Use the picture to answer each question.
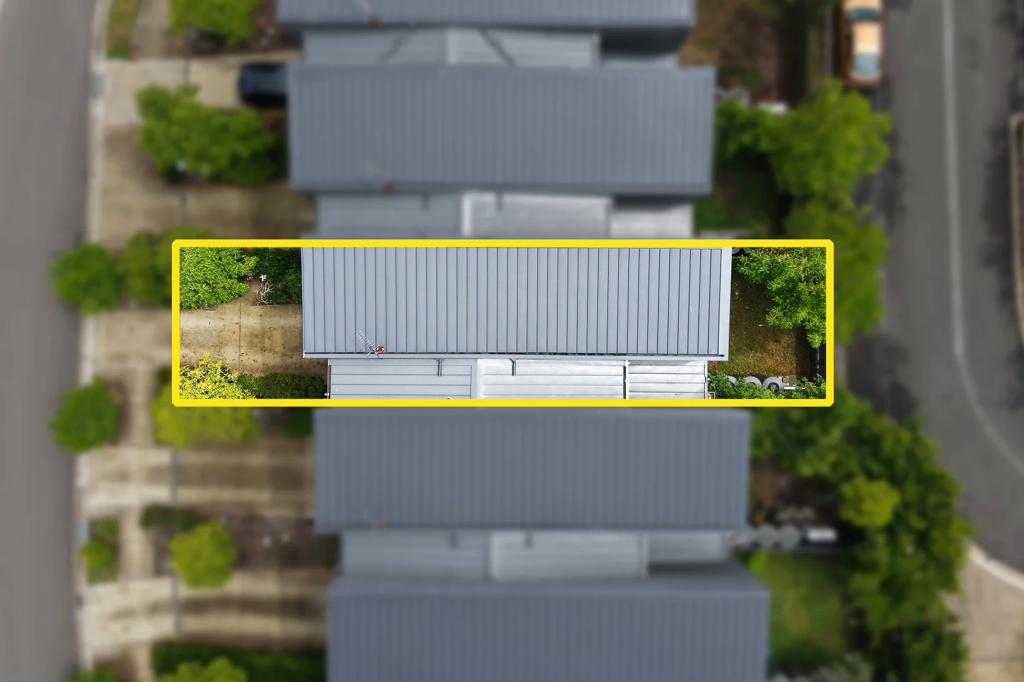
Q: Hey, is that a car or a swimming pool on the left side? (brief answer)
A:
car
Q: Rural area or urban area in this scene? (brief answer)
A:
urban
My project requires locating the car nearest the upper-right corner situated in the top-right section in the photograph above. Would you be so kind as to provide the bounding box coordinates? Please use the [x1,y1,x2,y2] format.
[833,0,883,86]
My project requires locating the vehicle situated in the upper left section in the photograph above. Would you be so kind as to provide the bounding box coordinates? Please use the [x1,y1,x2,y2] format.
[241,62,292,109]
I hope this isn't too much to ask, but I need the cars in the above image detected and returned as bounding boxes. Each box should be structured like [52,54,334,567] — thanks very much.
[241,62,292,109]
[833,0,883,86]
